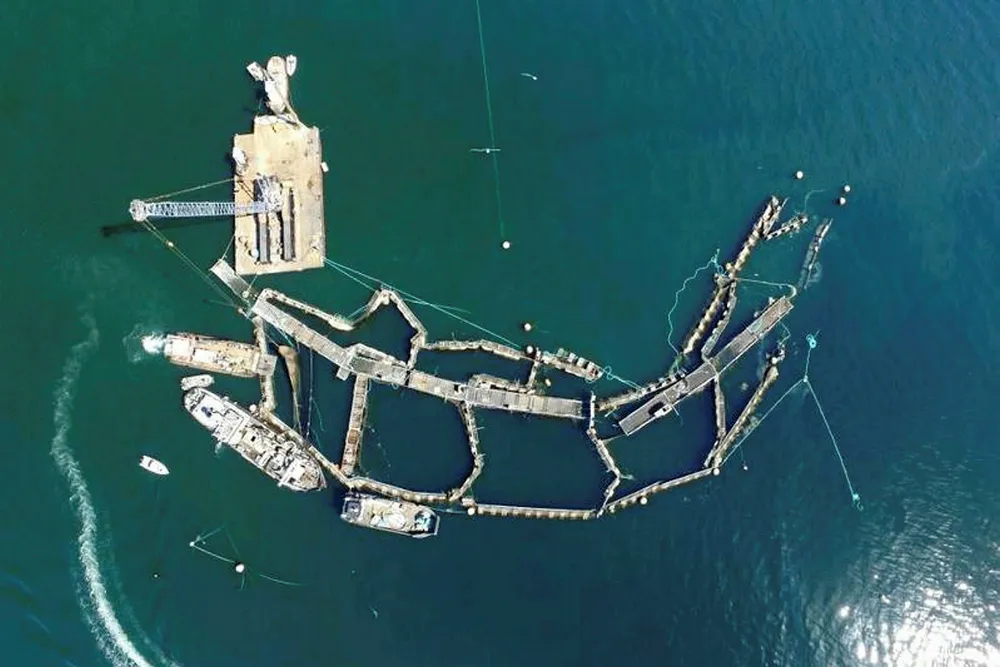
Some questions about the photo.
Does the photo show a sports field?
No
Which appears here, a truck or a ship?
ship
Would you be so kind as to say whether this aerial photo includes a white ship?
Yes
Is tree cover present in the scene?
No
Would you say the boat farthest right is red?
No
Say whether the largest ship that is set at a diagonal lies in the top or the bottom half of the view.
bottom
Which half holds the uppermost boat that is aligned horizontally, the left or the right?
left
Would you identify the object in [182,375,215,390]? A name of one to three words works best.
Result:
boat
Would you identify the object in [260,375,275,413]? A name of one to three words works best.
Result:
pier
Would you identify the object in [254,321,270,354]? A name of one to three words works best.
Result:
pier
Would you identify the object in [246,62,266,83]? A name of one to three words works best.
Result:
boat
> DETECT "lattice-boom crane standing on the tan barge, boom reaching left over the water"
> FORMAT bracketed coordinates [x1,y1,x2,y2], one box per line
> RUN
[130,178,291,318]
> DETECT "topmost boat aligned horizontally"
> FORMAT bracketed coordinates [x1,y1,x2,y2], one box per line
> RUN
[163,333,263,377]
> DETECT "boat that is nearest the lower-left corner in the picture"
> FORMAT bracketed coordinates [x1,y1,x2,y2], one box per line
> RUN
[139,456,172,475]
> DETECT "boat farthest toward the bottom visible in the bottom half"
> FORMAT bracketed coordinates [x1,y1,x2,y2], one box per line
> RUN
[341,493,439,538]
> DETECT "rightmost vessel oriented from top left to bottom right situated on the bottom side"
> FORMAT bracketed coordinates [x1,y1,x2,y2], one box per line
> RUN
[183,381,325,491]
